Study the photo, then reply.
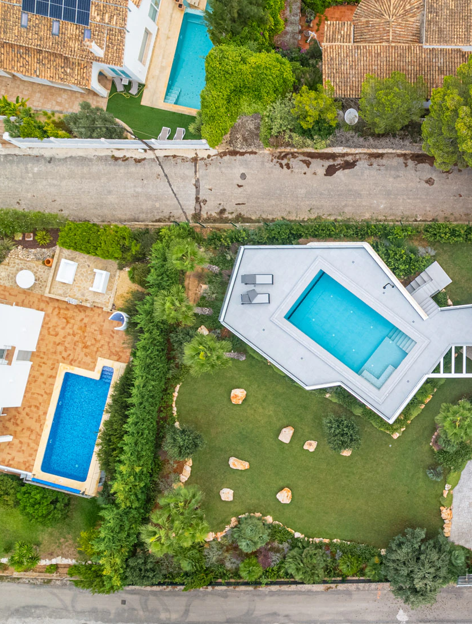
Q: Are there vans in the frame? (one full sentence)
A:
No, I can't see a single van in this photo.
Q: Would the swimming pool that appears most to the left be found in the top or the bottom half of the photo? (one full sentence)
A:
You can find the swimming pool that appears most to the left in the bottom half.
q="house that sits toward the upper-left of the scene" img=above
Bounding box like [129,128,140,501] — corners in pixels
[0,0,163,97]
